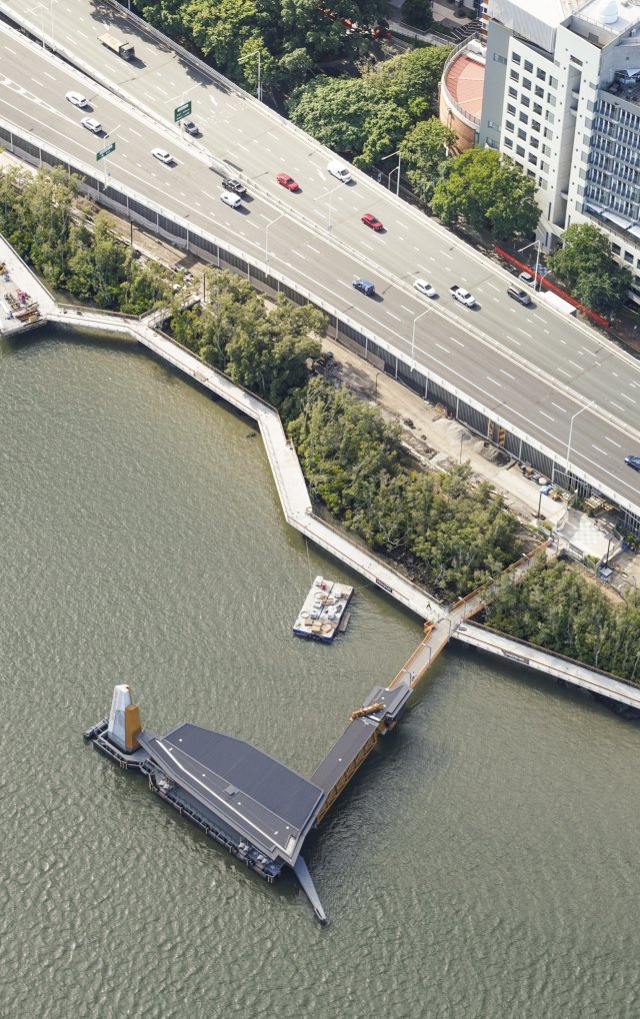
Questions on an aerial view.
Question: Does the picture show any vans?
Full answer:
Yes, the frame does contain a van.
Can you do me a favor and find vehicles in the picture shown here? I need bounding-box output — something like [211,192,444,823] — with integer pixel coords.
[328,160,353,181]
[623,454,640,473]
[82,118,105,134]
[102,36,132,58]
[507,285,533,304]
[67,94,90,108]
[222,177,248,195]
[353,281,376,297]
[361,215,385,231]
[518,266,541,285]
[542,288,581,317]
[450,286,477,306]
[277,175,301,191]
[414,278,439,295]
[183,121,202,135]
[152,149,175,164]
[220,191,245,209]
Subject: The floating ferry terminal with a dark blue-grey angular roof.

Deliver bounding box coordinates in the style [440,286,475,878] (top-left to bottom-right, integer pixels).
[92,722,324,887]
